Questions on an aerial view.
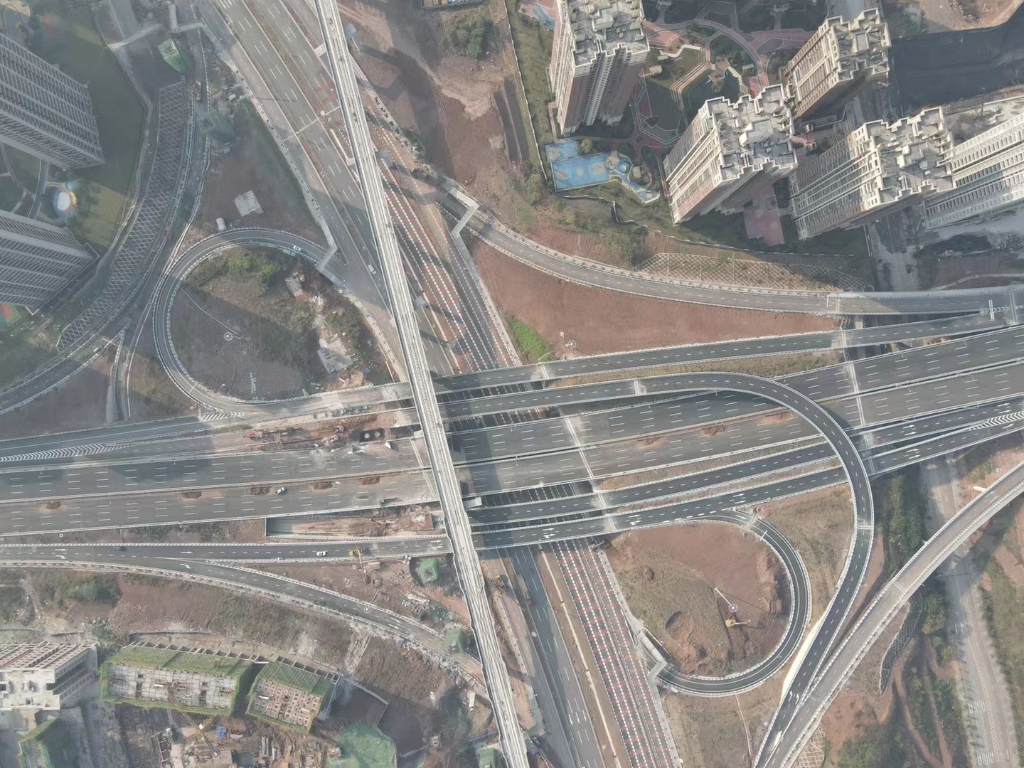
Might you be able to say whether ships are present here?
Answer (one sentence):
No, I find no ship anywhere in the image.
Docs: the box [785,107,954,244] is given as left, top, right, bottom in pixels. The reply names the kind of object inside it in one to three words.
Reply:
building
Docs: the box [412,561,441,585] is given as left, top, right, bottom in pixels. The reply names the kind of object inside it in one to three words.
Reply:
shed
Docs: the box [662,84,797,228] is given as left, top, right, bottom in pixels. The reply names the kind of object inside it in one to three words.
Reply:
building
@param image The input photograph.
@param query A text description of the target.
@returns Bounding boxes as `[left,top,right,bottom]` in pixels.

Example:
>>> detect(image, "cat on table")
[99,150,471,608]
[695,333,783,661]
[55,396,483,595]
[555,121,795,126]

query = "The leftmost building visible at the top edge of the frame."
[0,22,106,178]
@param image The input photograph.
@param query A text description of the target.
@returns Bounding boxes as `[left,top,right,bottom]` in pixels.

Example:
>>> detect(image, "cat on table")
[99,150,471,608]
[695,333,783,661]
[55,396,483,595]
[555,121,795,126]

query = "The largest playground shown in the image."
[546,141,661,204]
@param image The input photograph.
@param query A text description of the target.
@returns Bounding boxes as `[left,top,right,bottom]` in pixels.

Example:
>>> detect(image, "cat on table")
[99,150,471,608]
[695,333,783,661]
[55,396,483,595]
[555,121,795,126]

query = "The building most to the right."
[919,107,1024,231]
